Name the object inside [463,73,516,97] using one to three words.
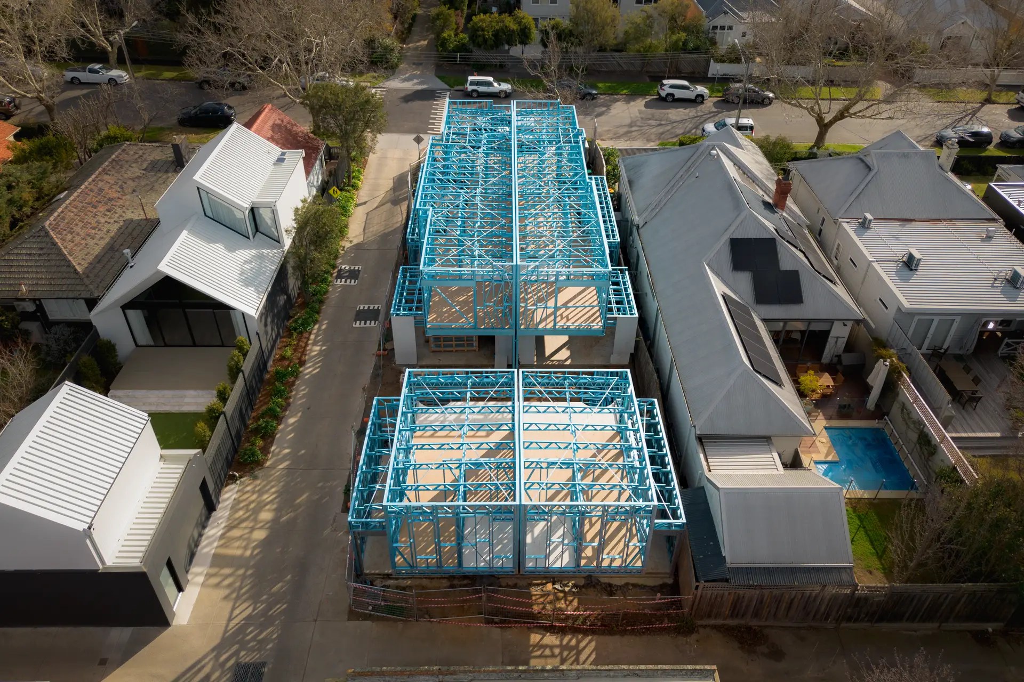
car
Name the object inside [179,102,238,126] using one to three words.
car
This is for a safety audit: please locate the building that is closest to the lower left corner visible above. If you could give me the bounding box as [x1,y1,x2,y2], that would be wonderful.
[0,379,218,626]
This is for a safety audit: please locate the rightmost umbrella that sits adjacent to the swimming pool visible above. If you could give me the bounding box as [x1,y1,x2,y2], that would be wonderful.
[864,364,890,417]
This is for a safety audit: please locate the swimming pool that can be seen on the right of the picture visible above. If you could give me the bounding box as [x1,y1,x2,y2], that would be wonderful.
[808,420,927,497]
